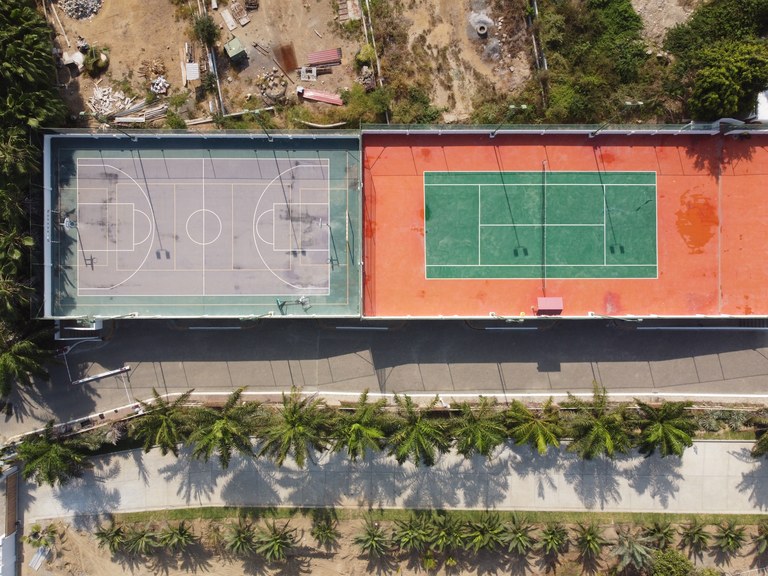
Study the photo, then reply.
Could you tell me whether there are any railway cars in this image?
No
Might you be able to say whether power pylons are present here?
No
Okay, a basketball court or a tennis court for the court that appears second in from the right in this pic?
tennis court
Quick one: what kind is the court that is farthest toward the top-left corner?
basketball court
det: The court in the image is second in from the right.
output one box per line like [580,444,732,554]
[362,134,718,316]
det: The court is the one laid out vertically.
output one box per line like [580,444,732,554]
[720,134,768,316]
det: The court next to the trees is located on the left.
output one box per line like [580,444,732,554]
[50,138,358,315]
